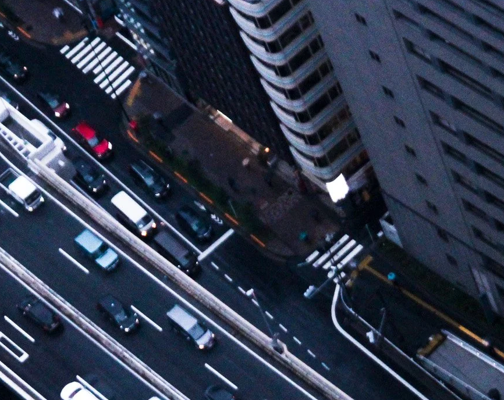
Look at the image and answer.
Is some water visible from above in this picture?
No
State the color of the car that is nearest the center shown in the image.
black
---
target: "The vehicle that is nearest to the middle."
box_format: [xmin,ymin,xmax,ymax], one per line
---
[171,203,218,244]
